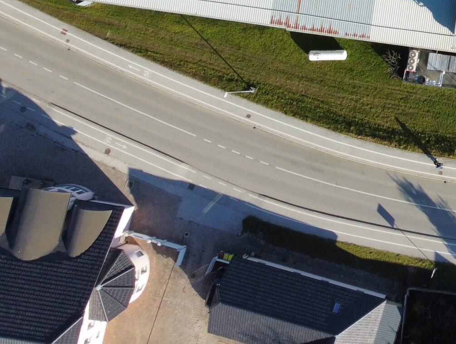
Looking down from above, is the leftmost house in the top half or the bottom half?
bottom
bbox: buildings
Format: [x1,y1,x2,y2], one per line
[0,184,151,344]
[206,254,388,344]
[77,0,456,54]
